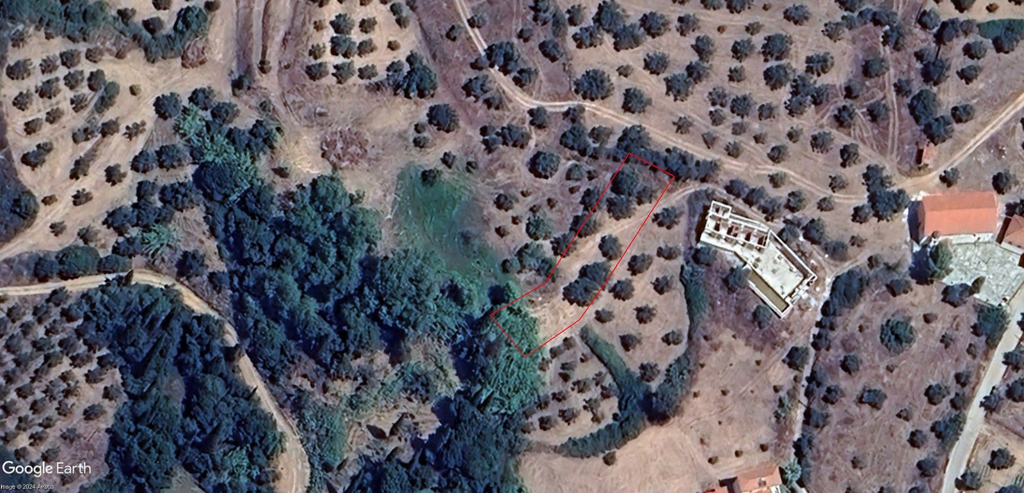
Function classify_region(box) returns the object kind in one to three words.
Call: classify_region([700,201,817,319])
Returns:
building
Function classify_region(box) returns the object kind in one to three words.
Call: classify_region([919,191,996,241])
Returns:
house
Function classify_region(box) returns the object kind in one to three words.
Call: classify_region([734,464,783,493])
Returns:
house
